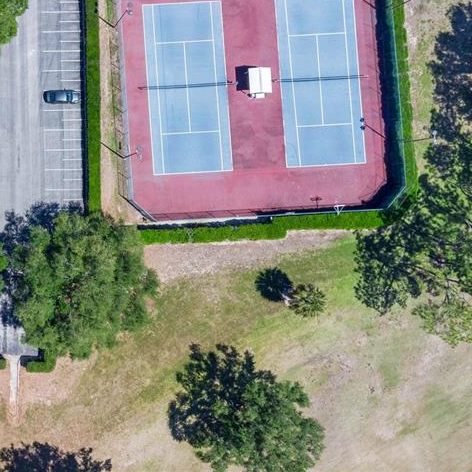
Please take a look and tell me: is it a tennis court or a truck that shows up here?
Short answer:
tennis court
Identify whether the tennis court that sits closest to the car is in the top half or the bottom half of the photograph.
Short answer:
top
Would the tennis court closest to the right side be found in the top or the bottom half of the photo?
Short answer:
top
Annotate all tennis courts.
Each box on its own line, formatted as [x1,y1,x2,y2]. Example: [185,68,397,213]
[275,0,366,167]
[142,0,232,175]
